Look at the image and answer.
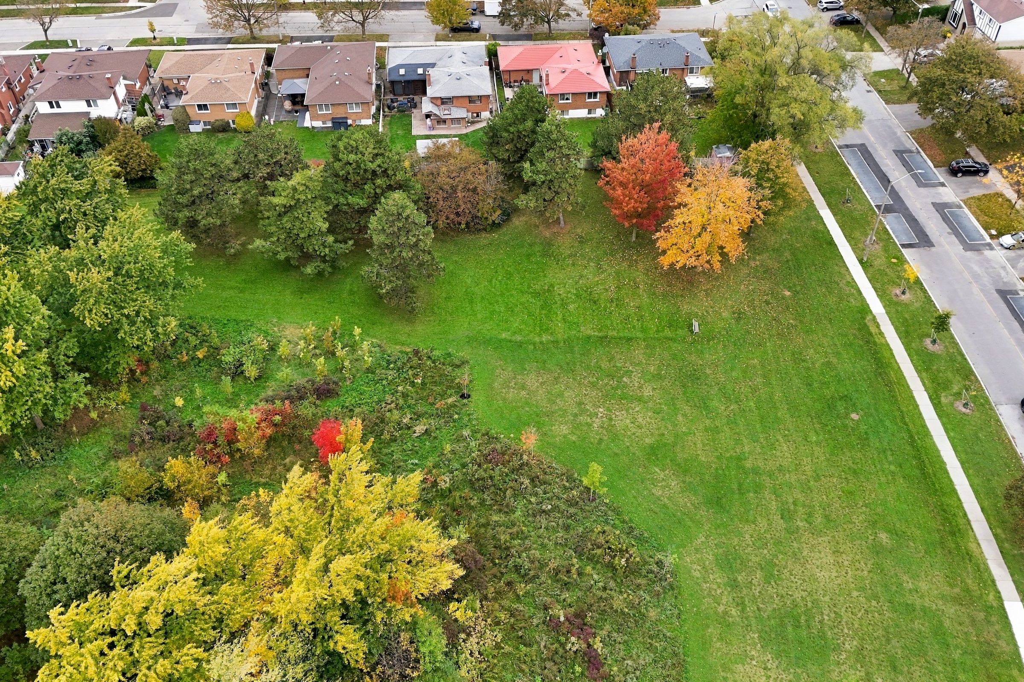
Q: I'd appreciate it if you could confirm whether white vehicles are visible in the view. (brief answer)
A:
Yes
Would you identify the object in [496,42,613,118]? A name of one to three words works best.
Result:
house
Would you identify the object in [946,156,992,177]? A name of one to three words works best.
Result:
car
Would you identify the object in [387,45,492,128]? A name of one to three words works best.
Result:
house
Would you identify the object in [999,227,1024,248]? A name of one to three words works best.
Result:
car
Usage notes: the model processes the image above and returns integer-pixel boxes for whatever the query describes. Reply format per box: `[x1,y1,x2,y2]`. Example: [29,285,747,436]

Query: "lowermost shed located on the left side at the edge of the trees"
[0,160,30,192]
